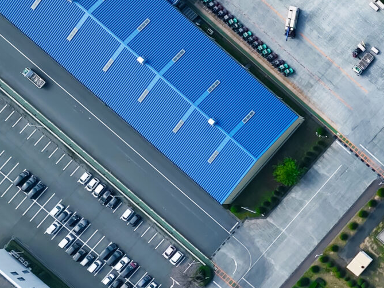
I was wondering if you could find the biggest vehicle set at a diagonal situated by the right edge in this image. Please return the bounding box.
[352,48,376,76]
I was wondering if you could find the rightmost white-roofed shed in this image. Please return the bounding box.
[346,250,374,275]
